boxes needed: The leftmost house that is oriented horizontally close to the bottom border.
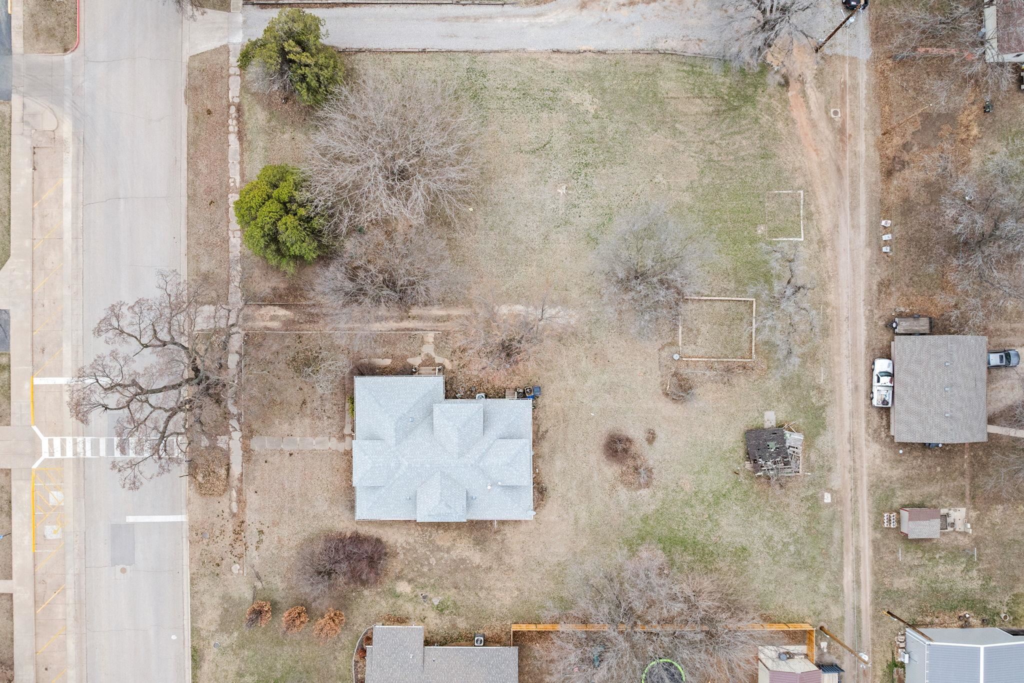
[364,617,518,683]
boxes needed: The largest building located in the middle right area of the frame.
[890,336,988,444]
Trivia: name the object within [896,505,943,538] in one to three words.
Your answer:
shed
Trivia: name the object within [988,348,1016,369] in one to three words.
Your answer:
car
